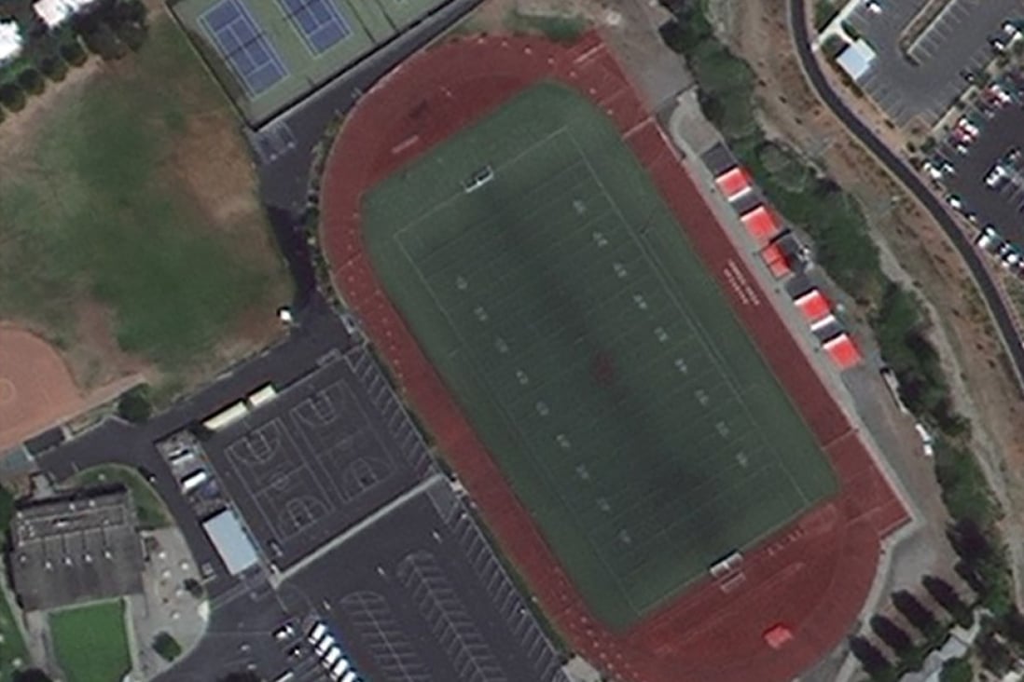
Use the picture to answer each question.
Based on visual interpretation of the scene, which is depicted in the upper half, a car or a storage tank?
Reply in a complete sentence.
Looking in the upper half, you will find a car.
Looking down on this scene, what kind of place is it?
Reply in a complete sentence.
The area seen from above is a sports ground.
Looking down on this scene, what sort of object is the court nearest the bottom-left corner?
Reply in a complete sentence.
The court nearest the bottom-left corner appears to be a basketball court.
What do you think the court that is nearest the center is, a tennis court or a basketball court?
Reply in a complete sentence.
From above, the court that is nearest the center can be identified as a basketball court.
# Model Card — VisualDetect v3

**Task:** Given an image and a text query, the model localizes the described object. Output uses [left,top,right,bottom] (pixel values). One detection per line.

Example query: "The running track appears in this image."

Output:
[319,28,914,682]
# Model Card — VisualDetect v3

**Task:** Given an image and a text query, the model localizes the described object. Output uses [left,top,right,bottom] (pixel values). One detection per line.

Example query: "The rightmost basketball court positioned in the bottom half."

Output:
[287,380,398,504]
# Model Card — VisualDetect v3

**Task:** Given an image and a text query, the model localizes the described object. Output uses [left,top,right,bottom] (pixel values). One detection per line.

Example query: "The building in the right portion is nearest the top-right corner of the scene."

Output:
[838,38,876,79]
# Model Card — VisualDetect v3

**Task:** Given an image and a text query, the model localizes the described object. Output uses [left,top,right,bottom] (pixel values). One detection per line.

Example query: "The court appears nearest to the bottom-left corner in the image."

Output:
[221,417,336,545]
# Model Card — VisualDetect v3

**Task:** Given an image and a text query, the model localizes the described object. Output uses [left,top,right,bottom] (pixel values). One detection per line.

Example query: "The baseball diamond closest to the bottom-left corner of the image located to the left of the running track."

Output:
[0,326,145,453]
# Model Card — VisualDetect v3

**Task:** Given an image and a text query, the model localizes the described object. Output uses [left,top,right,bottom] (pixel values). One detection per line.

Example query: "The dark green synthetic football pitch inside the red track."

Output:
[360,80,840,634]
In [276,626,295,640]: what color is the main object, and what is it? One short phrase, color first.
white car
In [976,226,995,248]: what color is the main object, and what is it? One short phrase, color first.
white vehicle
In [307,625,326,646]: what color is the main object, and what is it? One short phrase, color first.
white vehicle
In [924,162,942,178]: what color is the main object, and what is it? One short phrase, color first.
white car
